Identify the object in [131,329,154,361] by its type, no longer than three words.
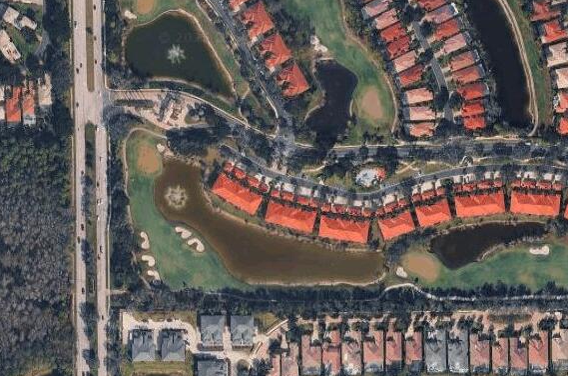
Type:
building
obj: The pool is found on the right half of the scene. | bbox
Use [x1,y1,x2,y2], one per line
[355,167,379,187]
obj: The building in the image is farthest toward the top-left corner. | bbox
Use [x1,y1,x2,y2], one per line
[0,4,36,30]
